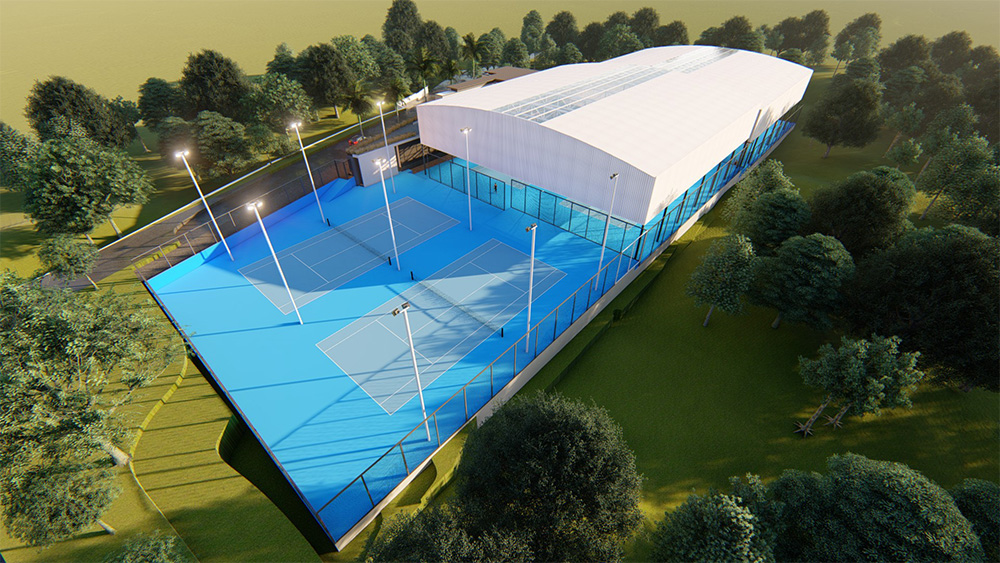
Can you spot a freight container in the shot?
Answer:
No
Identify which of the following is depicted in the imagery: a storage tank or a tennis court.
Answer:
tennis court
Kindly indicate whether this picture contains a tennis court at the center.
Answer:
Yes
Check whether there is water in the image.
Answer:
No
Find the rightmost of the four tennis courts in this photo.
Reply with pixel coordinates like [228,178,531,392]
[546,193,622,224]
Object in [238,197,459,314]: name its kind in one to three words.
tennis court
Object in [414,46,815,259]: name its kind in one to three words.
building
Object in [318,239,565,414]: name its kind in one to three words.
tennis court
